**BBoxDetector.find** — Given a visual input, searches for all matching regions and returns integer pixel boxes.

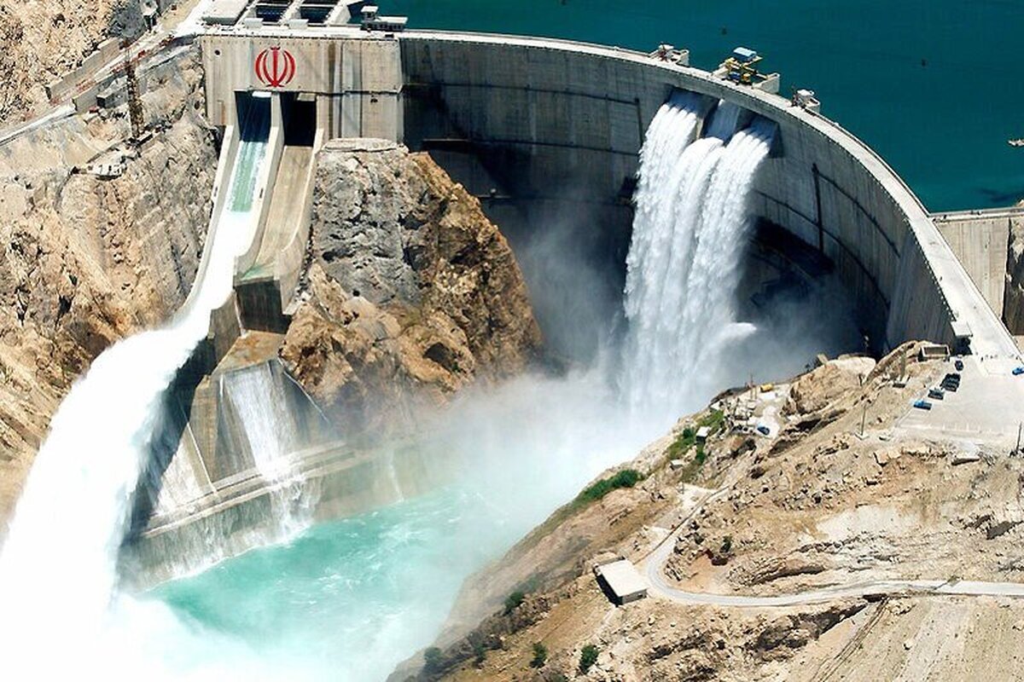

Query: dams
[396,29,991,410]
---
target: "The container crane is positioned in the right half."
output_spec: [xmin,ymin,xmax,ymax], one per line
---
[727,54,772,86]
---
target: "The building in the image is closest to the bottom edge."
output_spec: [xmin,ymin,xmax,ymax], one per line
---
[594,558,650,614]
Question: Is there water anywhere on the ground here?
Yes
